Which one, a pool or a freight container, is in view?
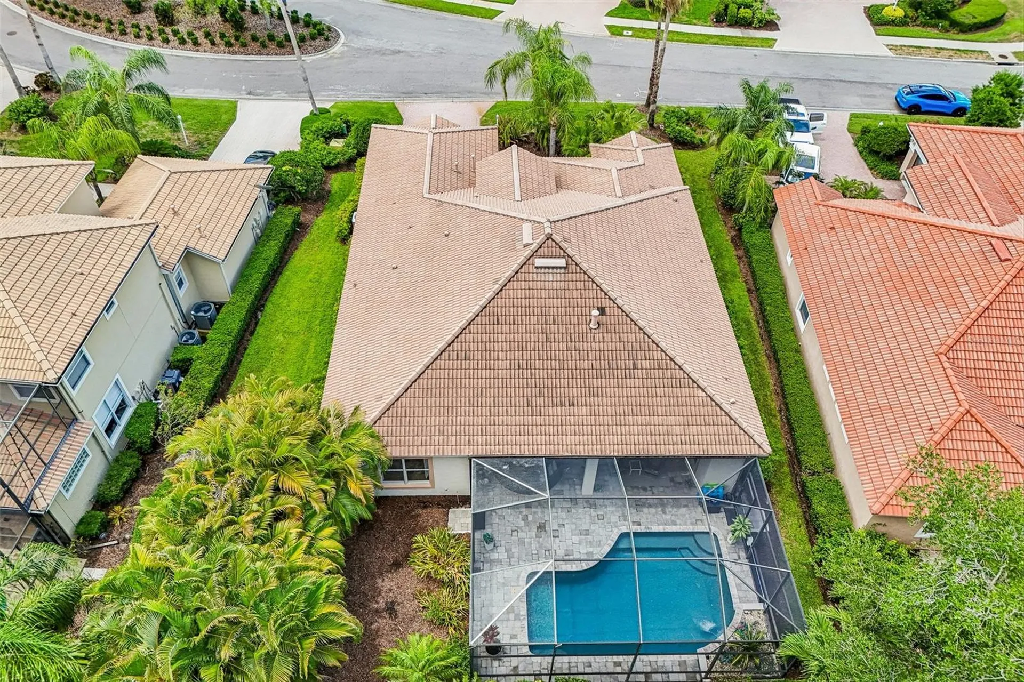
pool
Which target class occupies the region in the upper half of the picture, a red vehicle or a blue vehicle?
blue vehicle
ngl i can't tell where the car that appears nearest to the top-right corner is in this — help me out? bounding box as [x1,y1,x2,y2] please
[894,79,970,113]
